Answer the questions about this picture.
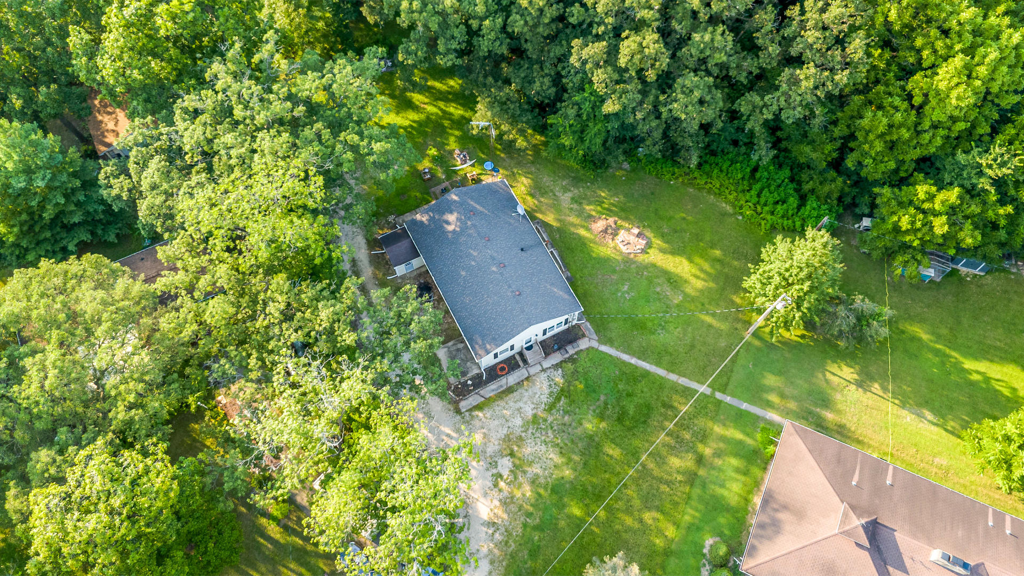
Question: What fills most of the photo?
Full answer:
The largest share of the image is taken up by trees.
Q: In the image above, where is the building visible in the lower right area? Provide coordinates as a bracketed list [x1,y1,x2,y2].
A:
[723,418,1024,576]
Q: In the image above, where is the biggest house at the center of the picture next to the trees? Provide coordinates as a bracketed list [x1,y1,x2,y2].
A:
[375,178,585,379]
